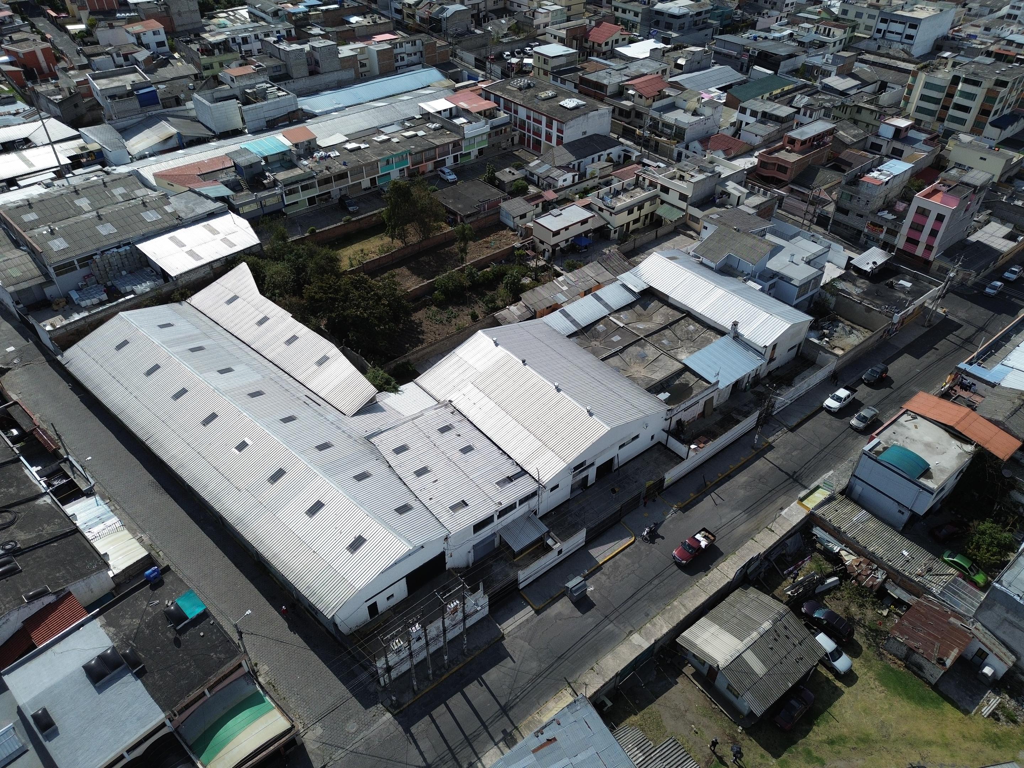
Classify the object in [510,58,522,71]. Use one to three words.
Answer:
vehicle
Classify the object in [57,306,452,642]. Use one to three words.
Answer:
warehouse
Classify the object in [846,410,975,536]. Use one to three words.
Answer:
house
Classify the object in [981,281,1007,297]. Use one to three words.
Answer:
car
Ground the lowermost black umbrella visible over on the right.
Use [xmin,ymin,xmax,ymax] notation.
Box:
[728,742,742,756]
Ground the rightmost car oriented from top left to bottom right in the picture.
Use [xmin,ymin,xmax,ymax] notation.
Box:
[939,551,991,590]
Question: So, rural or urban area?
urban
